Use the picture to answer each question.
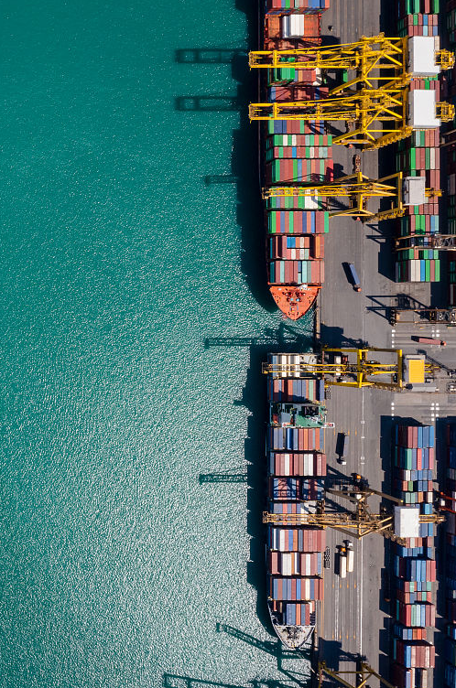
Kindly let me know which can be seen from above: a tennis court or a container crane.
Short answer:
container crane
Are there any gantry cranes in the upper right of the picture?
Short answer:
Yes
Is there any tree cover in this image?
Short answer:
No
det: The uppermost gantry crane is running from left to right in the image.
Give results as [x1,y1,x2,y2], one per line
[247,31,455,103]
